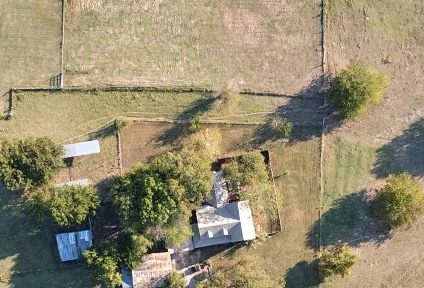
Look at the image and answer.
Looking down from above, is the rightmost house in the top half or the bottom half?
bottom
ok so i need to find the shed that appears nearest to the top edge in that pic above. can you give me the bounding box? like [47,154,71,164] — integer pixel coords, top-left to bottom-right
[62,140,101,158]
